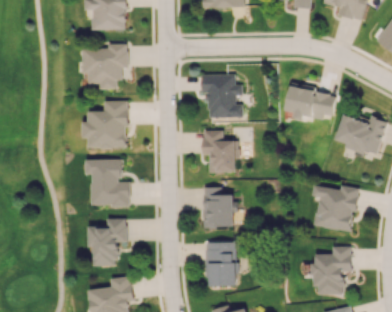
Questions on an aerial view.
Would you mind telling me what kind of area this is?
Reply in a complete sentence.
The area seen from above is a residential area.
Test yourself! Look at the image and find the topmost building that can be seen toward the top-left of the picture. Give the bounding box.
[84,0,126,30]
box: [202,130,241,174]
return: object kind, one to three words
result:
house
